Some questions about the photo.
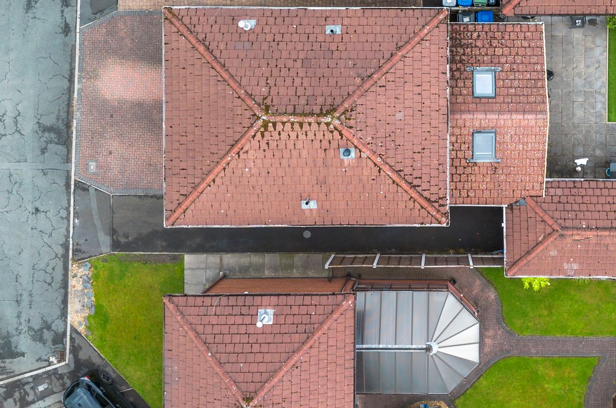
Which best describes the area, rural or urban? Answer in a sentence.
It looks urban.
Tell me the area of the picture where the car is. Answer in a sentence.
The car appears toward the bottom left of the photo.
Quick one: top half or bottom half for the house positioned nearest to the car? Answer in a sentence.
The house positioned nearest to the car sits in the bottom half of the picture.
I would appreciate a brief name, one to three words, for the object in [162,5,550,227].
house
